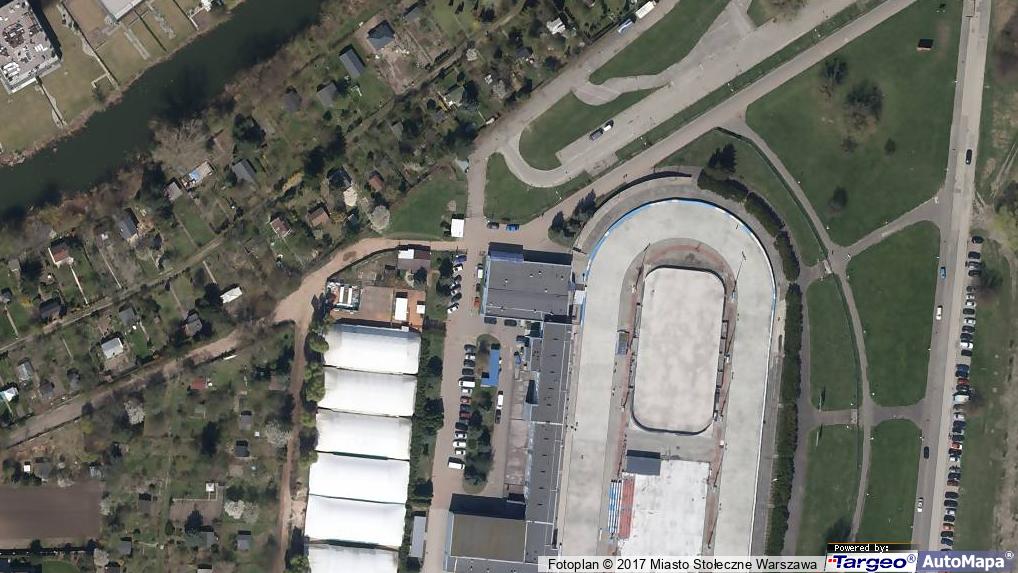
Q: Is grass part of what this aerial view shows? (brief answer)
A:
Yes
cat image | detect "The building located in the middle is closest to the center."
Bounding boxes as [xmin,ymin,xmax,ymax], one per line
[482,252,572,324]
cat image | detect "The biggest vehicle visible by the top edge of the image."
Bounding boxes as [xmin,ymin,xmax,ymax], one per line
[635,2,657,19]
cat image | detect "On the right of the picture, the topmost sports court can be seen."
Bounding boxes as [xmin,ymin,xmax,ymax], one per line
[632,265,728,435]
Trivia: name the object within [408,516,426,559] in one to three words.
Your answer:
shed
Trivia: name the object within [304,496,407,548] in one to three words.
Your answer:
building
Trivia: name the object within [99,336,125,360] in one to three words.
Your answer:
house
